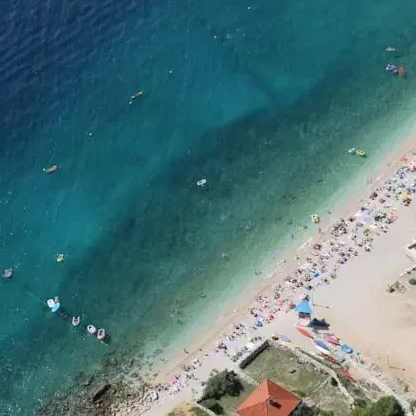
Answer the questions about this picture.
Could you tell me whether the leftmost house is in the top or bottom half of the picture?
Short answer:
bottom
